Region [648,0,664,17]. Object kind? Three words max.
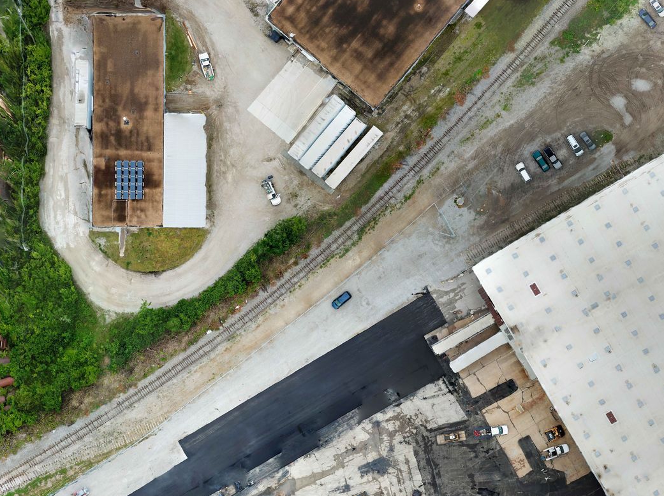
car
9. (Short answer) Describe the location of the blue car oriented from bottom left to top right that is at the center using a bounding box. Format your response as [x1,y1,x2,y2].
[330,290,352,308]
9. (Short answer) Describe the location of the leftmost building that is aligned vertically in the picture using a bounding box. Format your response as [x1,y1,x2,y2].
[91,14,171,229]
